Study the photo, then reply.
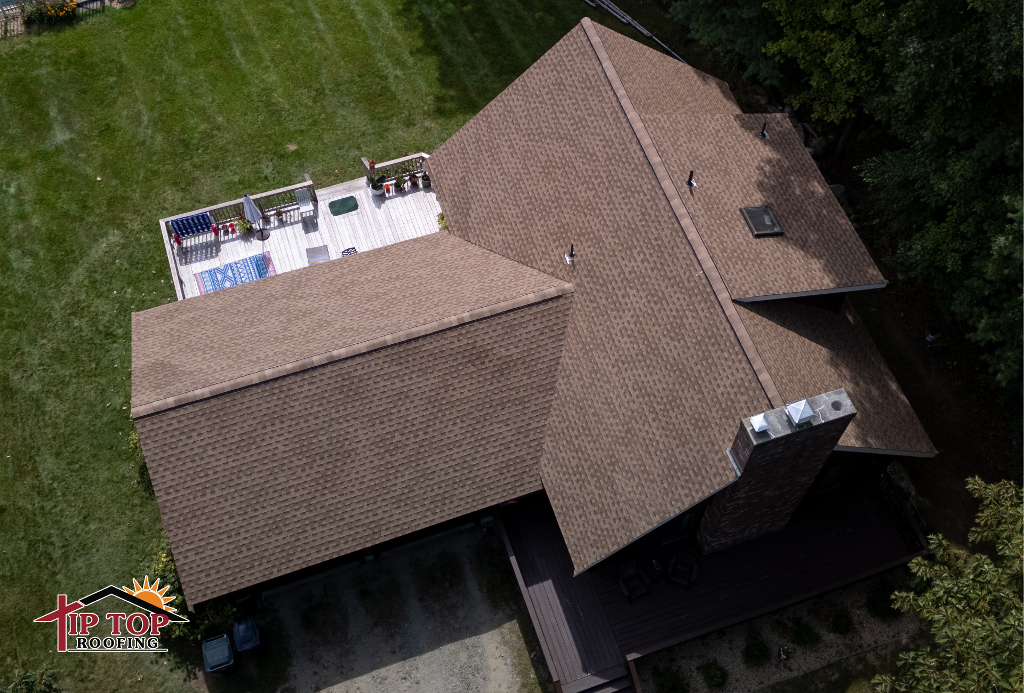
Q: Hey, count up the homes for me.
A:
1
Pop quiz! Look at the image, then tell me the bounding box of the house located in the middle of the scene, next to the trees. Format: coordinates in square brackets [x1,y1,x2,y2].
[129,22,937,613]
